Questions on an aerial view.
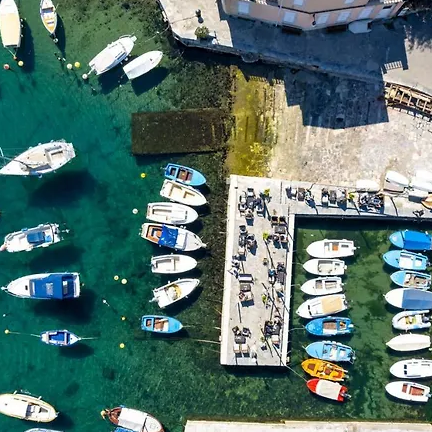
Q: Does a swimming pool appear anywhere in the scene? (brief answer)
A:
No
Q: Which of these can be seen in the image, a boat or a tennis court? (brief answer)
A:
boat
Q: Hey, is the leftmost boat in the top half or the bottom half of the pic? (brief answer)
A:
top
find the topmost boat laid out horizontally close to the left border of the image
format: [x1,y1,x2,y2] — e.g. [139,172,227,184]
[0,141,80,176]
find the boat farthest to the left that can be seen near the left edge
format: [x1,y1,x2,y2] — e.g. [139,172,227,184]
[0,0,23,51]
